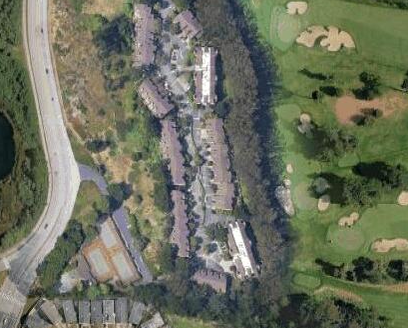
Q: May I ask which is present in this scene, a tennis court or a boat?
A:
tennis court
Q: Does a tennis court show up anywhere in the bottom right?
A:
No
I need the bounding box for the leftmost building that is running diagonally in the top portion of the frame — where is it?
[139,81,174,117]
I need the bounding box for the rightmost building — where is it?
[227,223,256,276]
